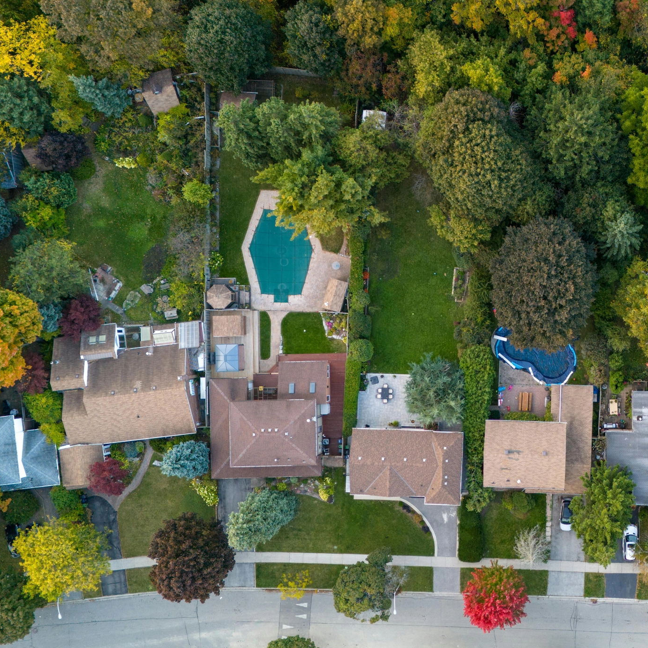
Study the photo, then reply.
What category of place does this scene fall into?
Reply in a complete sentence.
The picture captures a residential area.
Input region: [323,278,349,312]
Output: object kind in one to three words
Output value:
shed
